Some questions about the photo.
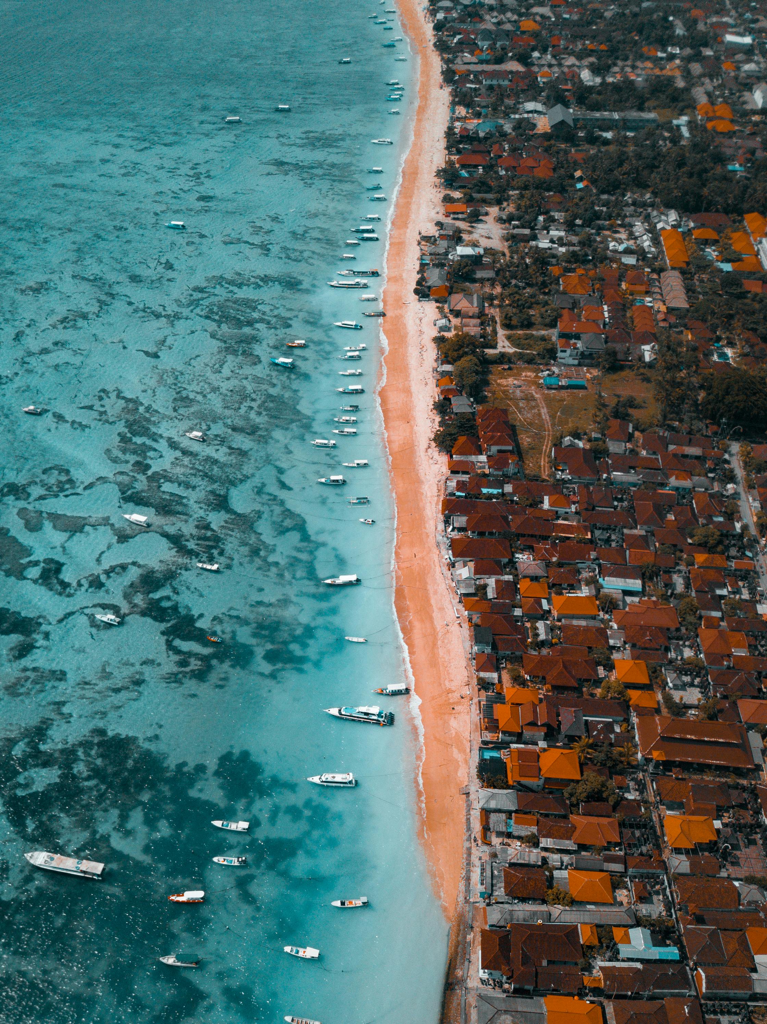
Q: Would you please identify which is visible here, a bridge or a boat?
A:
boat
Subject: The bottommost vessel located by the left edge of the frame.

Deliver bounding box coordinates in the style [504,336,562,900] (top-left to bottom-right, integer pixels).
[20,844,108,878]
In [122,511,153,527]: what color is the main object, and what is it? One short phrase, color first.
white boat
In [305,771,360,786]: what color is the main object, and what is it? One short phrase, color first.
white boat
